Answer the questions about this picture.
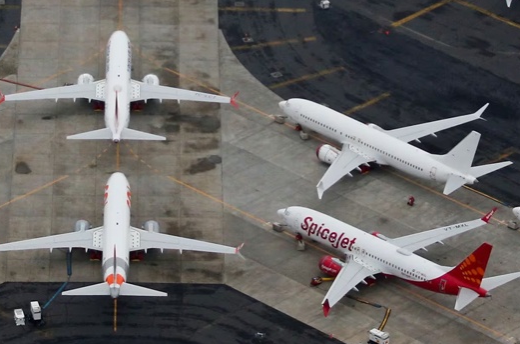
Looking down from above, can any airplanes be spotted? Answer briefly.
Yes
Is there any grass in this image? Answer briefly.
No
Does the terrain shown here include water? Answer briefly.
No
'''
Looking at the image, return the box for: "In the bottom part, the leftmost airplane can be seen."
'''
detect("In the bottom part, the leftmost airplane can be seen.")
[0,174,245,299]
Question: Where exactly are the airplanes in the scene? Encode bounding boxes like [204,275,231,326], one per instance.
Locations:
[279,99,513,200]
[0,32,239,143]
[277,207,520,317]
[513,207,520,222]
[0,174,245,299]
